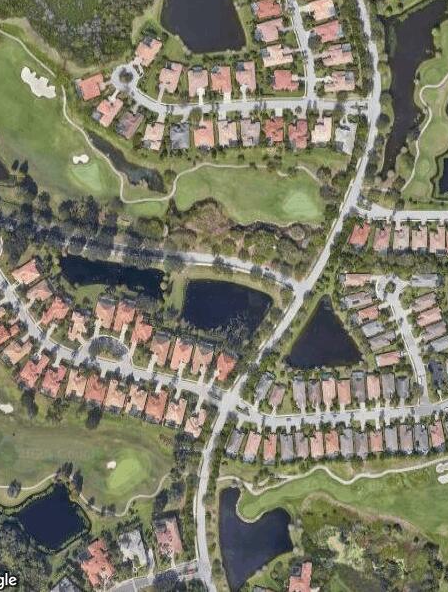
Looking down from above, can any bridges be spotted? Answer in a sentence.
No, the frame has no bridge in it.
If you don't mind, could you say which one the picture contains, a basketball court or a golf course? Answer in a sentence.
This aerial view contains a golf course.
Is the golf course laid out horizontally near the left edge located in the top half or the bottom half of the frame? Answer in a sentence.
The golf course laid out horizontally near the left edge is in the bottom half of the image.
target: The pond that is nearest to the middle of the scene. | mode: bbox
[182,278,273,338]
